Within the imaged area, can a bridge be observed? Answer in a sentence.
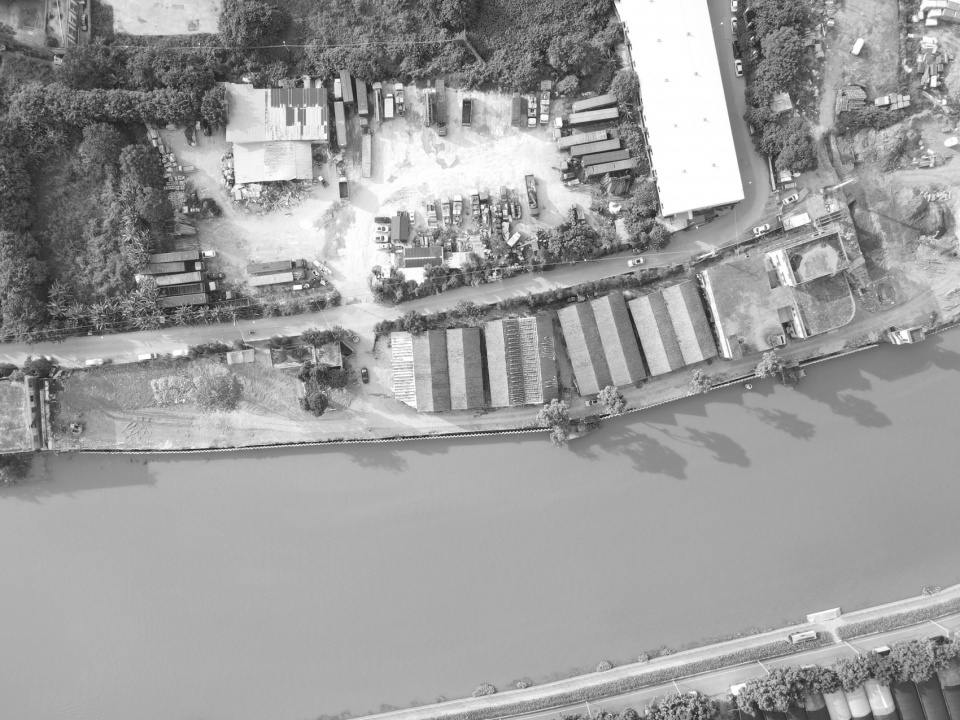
No, the picture doesn't show any bridge.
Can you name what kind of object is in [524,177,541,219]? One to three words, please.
vehicle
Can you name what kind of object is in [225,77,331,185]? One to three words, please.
barn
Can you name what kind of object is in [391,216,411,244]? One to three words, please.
shed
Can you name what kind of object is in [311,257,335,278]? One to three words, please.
truck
